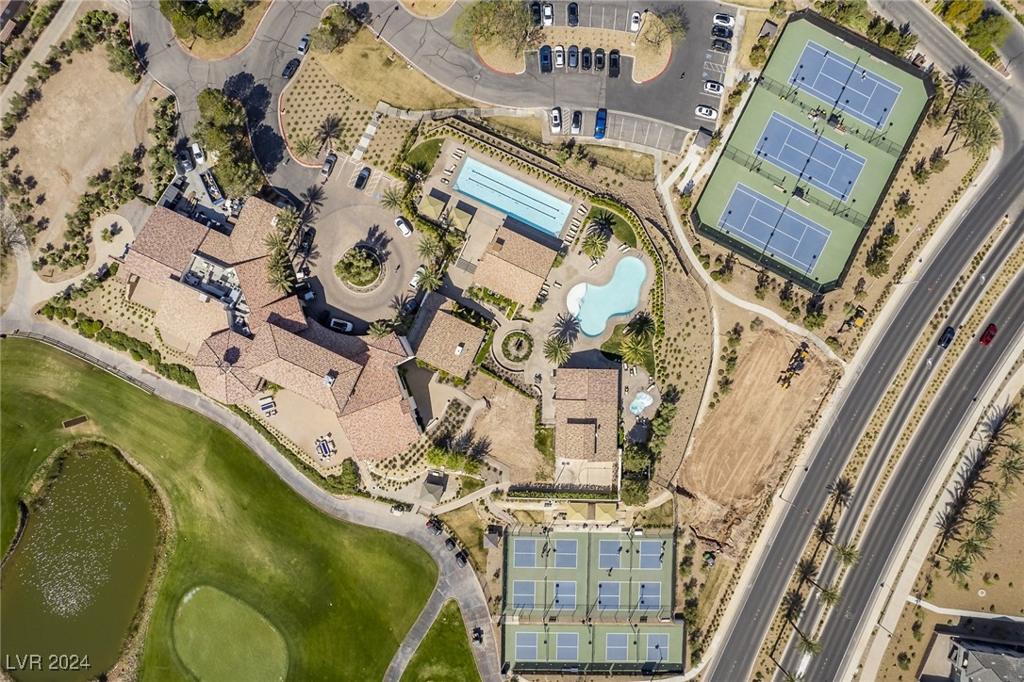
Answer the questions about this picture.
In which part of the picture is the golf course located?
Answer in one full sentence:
The golf course sits in the bottom left section of the image.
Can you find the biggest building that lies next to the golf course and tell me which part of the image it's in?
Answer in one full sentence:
The biggest building that lies next to the golf course is in the left part of the image.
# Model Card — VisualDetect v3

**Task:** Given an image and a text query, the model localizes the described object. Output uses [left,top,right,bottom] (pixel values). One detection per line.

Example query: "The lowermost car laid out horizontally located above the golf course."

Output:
[330,319,353,332]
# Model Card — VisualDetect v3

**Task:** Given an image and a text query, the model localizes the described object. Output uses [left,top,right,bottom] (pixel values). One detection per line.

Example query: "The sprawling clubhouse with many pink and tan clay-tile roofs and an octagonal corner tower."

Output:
[124,197,424,460]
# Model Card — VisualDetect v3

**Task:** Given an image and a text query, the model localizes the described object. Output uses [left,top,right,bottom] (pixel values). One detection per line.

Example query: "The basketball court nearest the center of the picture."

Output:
[555,458,613,491]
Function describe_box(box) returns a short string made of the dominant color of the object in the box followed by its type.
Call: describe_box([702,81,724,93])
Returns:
white vehicle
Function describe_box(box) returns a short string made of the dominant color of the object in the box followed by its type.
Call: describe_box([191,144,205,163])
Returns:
white car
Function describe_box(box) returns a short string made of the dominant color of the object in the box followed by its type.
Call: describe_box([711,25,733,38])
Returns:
black vehicle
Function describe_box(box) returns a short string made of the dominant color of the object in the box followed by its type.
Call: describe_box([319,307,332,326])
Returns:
black vehicle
